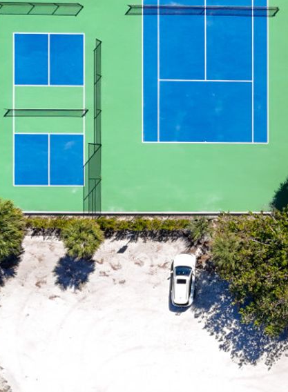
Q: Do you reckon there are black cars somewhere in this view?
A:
No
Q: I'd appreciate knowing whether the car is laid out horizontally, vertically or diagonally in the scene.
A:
vertically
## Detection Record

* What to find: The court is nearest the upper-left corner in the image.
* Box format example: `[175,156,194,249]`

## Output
[14,33,84,187]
